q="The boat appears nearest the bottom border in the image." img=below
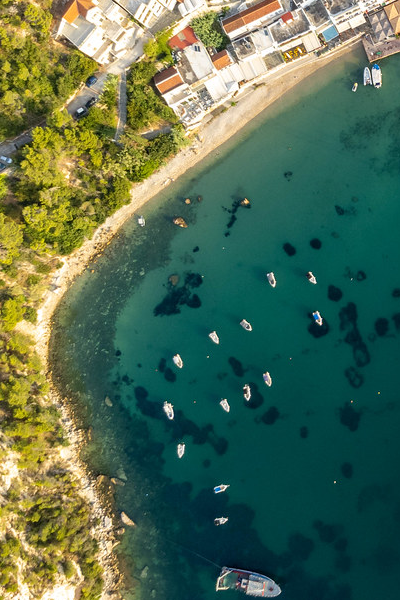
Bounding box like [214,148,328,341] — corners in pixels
[215,564,281,596]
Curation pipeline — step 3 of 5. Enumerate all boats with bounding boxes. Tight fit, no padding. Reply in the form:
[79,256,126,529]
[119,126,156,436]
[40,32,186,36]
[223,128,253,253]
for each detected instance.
[212,485,228,493]
[163,400,173,419]
[172,353,182,368]
[267,271,275,287]
[263,370,271,386]
[209,330,218,344]
[212,518,228,525]
[372,64,382,89]
[139,214,145,226]
[178,441,185,457]
[220,398,229,411]
[215,564,281,596]
[306,271,315,284]
[243,383,250,401]
[364,66,371,87]
[239,318,251,330]
[313,309,321,325]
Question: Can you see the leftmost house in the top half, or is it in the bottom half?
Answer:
top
